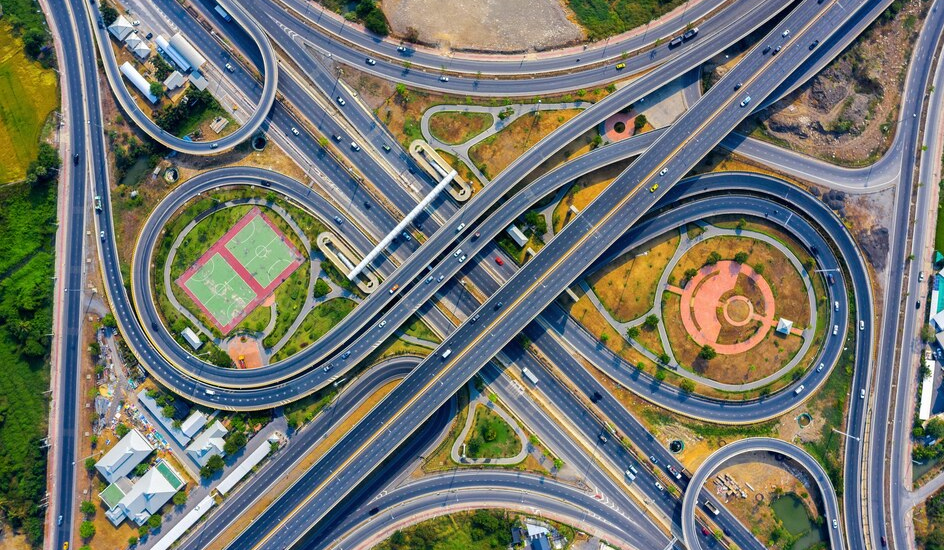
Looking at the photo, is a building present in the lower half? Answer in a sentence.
Yes, a building shows up in the lower half.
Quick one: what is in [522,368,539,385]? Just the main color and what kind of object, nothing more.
white vehicle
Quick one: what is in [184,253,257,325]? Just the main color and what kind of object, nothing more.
green sports court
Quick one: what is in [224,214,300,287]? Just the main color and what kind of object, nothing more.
green sports court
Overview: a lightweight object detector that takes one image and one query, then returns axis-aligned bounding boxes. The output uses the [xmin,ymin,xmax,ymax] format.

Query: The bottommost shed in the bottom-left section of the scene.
[153,494,218,550]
